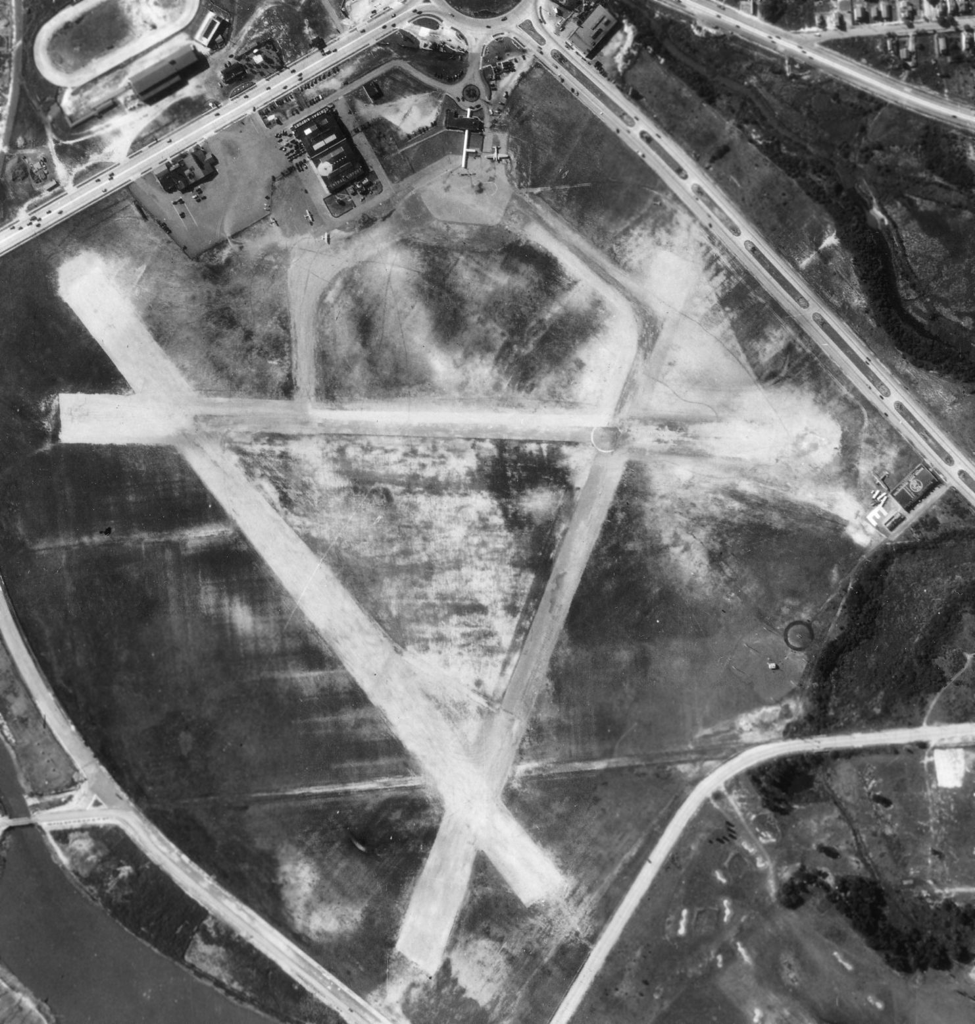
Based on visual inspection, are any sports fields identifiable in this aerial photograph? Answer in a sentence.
Yes, a sports field can be made out from above.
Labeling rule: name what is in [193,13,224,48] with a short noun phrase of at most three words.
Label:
building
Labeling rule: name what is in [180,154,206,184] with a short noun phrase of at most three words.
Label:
house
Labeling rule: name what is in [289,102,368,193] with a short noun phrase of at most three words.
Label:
hangar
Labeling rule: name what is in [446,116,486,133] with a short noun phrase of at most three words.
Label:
building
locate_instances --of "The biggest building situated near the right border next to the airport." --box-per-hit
[891,465,937,510]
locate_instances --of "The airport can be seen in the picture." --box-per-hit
[58,119,911,973]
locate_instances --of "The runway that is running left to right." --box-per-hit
[59,395,841,467]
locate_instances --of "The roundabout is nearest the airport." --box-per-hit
[455,77,487,109]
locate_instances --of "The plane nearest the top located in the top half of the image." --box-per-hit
[484,144,509,161]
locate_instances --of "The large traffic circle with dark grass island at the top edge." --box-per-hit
[424,0,545,35]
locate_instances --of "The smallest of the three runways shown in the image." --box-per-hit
[398,455,627,973]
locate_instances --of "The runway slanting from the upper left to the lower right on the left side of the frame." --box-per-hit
[58,254,561,905]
